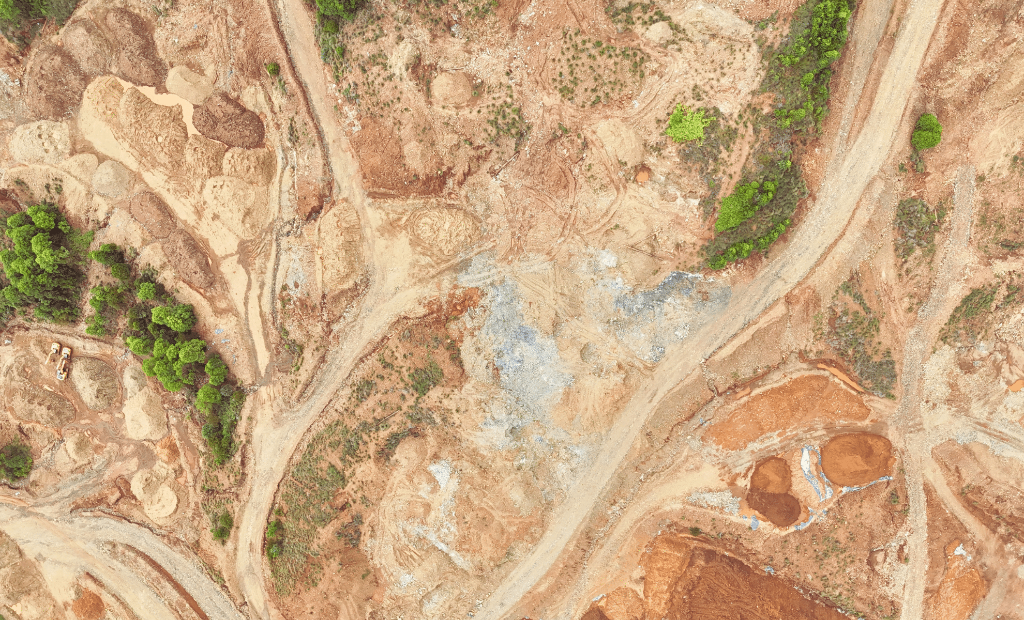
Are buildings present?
No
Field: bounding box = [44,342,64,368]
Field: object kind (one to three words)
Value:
work vehicle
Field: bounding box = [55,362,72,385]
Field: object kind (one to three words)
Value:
work vehicle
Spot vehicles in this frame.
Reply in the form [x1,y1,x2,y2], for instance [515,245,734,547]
[44,342,64,368]
[55,362,72,385]
[54,346,75,373]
